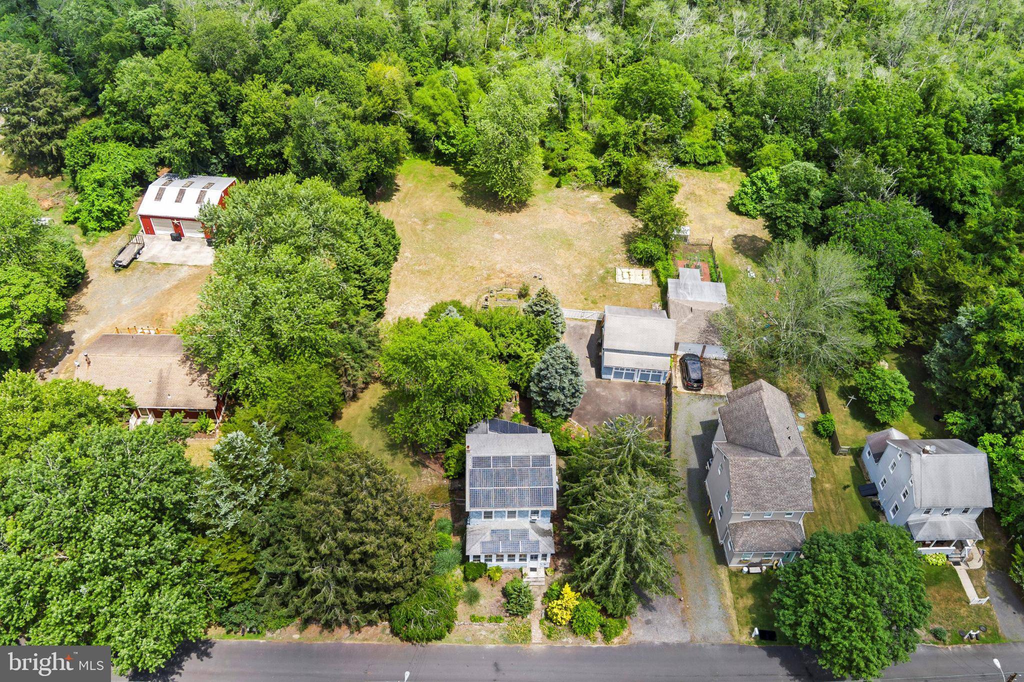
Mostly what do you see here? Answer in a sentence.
The scene is dominated by trees.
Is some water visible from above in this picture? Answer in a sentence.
No, there is no water in the image.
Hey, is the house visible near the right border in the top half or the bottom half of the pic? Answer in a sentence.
The house visible near the right border is in the bottom half of the image.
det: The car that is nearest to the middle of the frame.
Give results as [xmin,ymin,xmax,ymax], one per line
[681,354,704,392]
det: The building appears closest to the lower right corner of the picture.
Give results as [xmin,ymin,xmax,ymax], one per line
[861,426,994,567]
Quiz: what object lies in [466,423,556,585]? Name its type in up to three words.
house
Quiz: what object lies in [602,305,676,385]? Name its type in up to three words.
building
